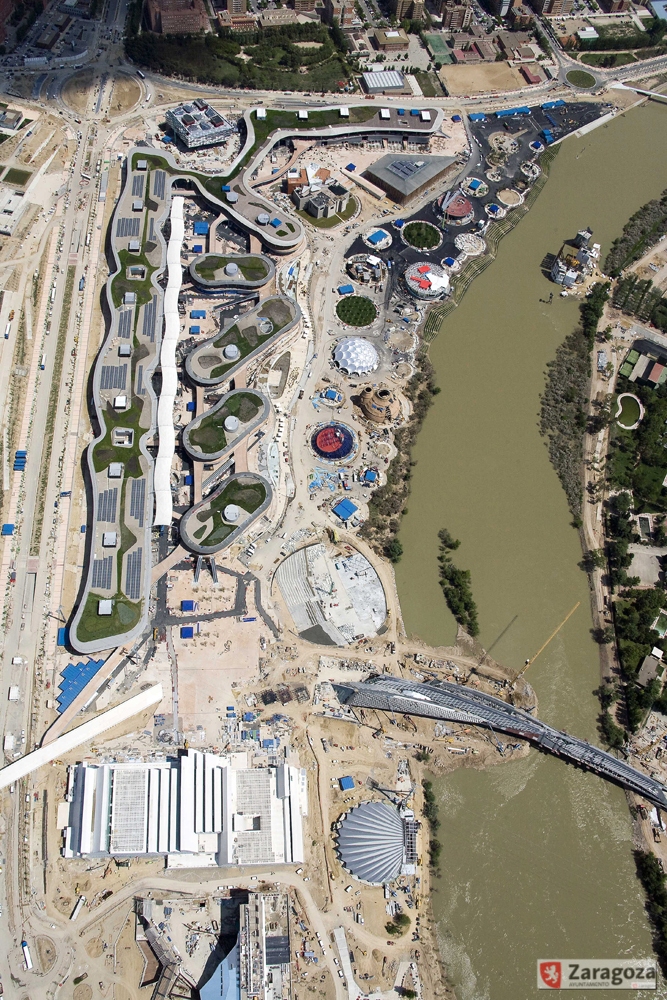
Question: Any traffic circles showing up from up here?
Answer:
Yes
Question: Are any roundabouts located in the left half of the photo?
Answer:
Yes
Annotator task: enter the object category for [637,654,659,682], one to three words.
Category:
house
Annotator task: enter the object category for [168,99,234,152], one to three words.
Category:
building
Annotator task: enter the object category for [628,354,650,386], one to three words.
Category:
building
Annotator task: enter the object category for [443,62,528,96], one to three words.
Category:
sports field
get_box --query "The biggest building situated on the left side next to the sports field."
[69,105,444,659]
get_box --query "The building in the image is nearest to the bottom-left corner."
[134,896,195,1000]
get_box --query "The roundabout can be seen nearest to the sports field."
[561,65,601,92]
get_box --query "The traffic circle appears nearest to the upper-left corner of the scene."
[61,63,144,122]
